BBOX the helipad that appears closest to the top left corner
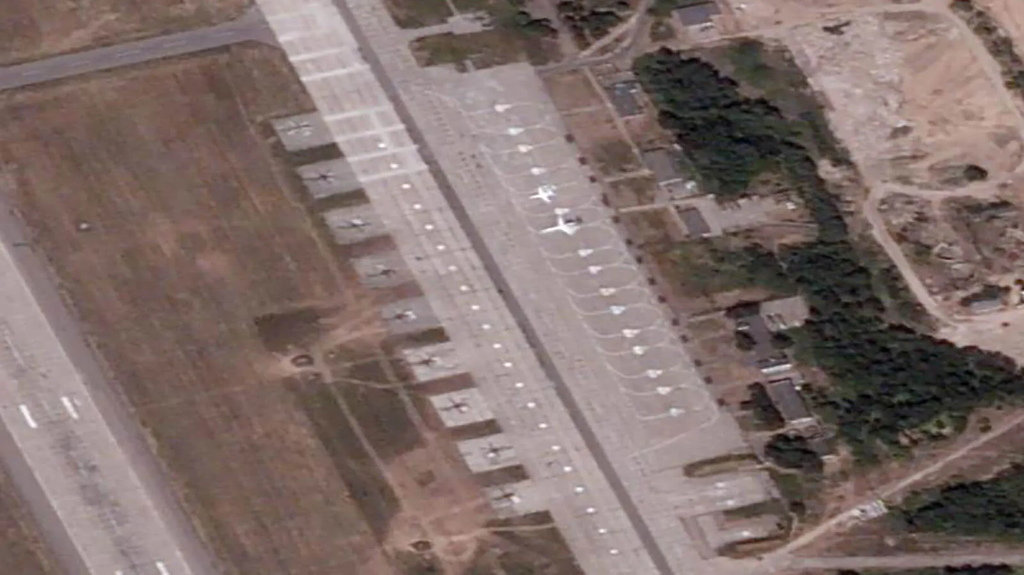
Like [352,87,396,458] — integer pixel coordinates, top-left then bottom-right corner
[272,111,336,151]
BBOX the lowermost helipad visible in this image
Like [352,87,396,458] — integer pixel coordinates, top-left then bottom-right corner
[481,479,551,517]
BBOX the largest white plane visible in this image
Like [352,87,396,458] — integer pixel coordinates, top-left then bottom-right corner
[540,215,581,240]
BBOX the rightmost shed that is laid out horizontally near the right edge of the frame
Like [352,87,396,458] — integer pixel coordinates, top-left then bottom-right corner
[971,298,1006,314]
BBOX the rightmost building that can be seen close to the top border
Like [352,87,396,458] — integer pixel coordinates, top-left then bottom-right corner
[676,0,722,29]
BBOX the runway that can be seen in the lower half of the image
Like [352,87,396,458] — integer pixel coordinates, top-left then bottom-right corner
[0,244,188,575]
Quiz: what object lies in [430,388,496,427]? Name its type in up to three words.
helipad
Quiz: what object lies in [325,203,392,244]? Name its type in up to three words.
helipad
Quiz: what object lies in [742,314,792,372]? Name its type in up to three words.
building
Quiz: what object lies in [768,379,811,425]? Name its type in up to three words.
building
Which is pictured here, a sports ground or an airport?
airport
